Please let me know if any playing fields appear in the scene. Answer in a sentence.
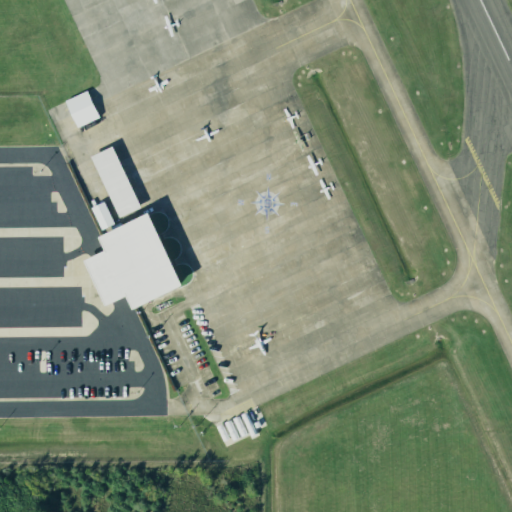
No, this view has no playing field in it.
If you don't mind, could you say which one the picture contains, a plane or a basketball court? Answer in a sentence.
Of the two, only a plane appears.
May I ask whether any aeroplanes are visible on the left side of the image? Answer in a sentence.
Yes, on the left side of the image there is an aeroplane.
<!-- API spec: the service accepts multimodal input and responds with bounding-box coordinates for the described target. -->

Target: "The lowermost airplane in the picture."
[248,329,272,354]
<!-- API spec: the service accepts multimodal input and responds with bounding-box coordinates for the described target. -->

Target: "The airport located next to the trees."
[49,0,512,424]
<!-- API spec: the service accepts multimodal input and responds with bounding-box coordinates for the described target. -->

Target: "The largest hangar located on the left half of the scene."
[84,213,181,310]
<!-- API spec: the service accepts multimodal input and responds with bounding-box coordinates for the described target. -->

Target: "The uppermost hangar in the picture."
[66,90,101,128]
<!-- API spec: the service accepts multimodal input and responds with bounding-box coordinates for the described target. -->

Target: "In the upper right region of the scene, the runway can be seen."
[446,0,512,262]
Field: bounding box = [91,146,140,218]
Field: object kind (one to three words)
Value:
shed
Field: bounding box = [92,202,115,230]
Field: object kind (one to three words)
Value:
shed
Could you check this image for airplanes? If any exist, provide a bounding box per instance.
[248,329,272,354]
[294,132,310,152]
[149,74,170,92]
[284,108,300,128]
[164,16,180,37]
[320,179,335,200]
[307,156,323,176]
[196,125,219,142]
